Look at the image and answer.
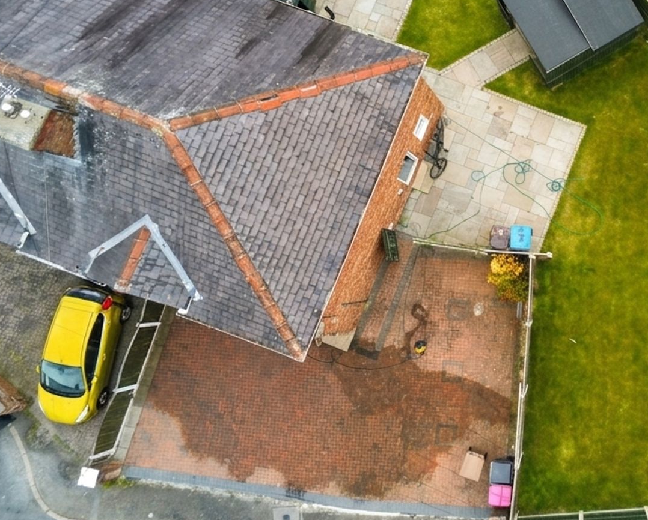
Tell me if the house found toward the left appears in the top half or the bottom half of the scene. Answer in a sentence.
The house found toward the left sits in the top half of the picture.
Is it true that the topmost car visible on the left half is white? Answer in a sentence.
No, the color of the topmost car visible on the left half is yellow.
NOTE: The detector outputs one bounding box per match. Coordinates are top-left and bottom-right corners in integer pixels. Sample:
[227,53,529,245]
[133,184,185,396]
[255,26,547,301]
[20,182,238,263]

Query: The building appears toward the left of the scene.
[0,0,440,364]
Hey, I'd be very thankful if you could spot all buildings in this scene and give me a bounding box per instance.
[0,0,440,364]
[504,0,641,85]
